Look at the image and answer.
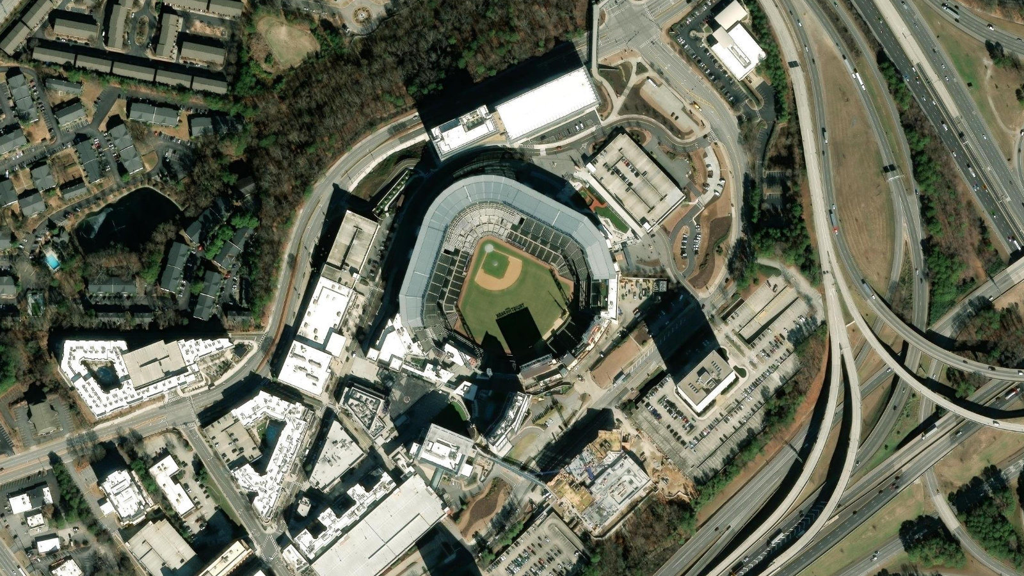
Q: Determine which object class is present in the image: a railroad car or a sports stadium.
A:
sports stadium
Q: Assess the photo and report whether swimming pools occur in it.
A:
Yes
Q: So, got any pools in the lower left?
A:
Yes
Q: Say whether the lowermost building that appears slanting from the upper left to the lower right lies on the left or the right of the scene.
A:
left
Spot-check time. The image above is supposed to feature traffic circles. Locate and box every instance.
[344,0,381,35]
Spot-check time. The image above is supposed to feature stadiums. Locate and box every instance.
[399,159,616,361]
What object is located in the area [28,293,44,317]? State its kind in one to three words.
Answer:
greenhouse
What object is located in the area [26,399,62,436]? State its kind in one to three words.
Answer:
house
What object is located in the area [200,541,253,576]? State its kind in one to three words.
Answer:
building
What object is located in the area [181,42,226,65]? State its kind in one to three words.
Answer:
house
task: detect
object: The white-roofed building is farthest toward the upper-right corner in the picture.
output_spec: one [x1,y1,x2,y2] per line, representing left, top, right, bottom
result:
[711,0,766,79]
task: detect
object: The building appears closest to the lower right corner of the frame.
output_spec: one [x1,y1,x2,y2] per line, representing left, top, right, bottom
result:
[678,350,735,411]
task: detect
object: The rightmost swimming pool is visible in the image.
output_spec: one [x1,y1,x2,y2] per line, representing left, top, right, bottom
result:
[264,422,284,455]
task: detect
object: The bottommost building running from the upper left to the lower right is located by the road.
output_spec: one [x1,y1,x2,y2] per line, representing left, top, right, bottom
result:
[283,544,309,572]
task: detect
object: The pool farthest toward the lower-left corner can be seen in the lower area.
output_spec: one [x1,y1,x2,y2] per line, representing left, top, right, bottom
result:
[97,365,113,381]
